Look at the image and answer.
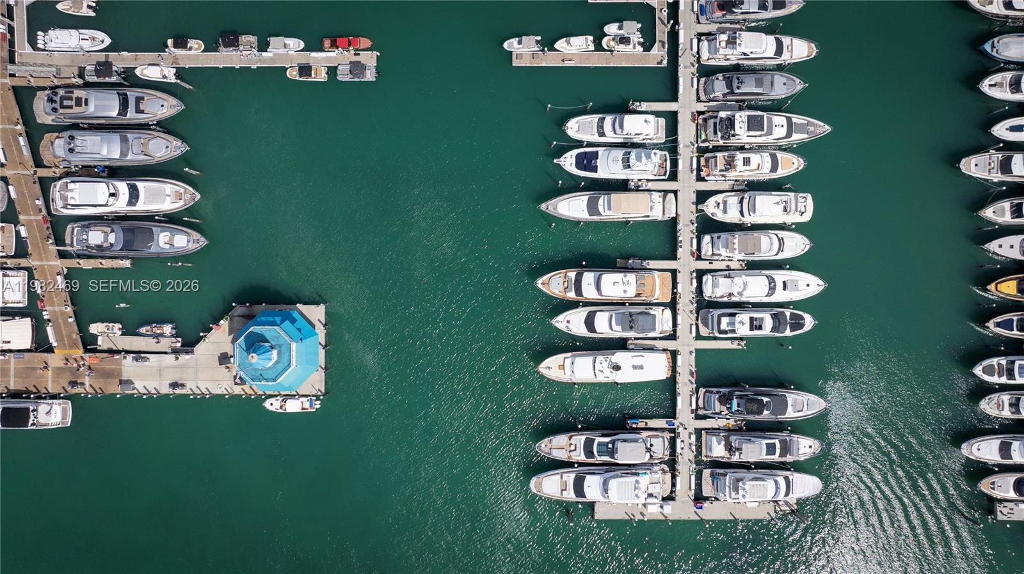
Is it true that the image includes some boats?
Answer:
Yes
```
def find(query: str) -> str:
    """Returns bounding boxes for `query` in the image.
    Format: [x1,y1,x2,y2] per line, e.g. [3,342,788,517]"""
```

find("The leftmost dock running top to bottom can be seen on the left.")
[0,0,133,353]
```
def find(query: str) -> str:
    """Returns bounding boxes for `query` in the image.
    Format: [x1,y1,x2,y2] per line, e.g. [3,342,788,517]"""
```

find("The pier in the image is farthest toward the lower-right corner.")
[990,499,1024,520]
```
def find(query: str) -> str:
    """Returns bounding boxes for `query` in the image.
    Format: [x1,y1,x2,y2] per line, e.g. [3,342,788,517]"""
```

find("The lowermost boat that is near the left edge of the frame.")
[0,398,72,430]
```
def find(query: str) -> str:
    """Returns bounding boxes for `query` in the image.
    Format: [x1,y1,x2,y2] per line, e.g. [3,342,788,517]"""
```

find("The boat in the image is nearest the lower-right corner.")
[977,472,1024,501]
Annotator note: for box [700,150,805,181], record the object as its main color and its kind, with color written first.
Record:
white boat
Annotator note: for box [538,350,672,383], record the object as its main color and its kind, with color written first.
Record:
white boat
